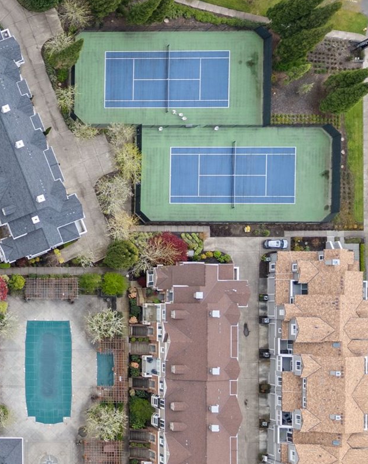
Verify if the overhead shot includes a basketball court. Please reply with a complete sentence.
No, no basketball court can be seen from above.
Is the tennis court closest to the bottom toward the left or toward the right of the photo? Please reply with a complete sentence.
It is on the right.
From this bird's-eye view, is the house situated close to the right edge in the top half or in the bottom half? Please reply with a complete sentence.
The house situated close to the right edge sits in the bottom half of the picture.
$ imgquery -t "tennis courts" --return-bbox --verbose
[75,25,272,126]
[141,122,342,222]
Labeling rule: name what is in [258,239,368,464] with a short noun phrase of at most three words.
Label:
house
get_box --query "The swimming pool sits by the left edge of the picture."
[0,295,127,464]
